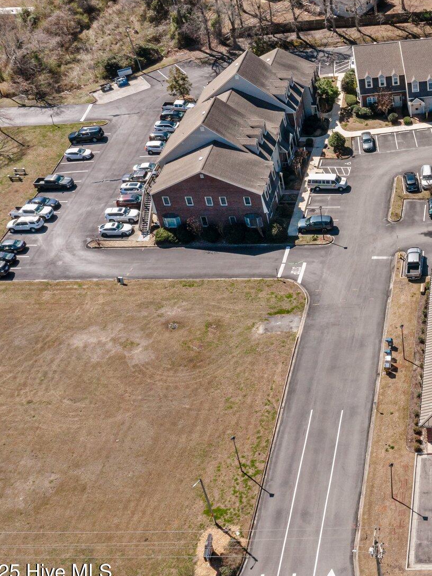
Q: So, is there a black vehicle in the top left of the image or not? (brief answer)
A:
Yes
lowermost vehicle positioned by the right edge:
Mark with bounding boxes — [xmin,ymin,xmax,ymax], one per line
[404,249,424,280]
